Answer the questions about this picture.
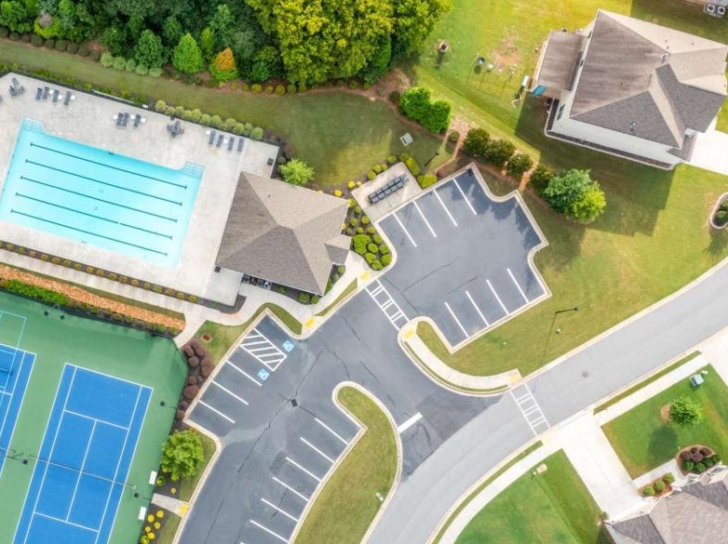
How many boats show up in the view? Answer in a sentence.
The picture shows no boats.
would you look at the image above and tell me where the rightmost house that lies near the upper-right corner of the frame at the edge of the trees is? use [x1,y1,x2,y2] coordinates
[526,10,728,169]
